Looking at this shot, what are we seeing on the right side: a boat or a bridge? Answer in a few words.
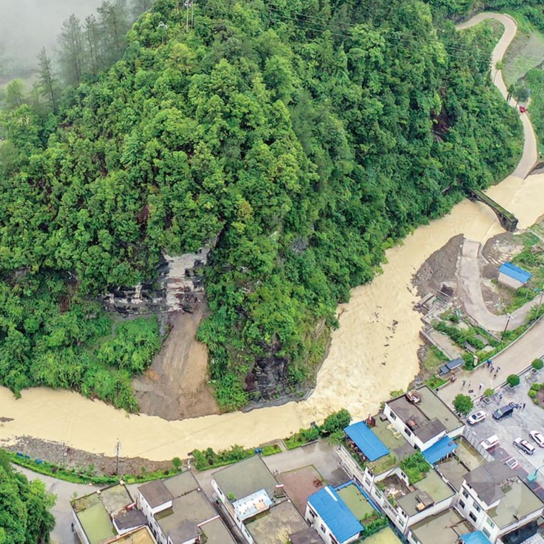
bridge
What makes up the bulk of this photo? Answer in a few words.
trees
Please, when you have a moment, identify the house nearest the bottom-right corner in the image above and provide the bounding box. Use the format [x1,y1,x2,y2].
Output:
[456,462,544,544]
